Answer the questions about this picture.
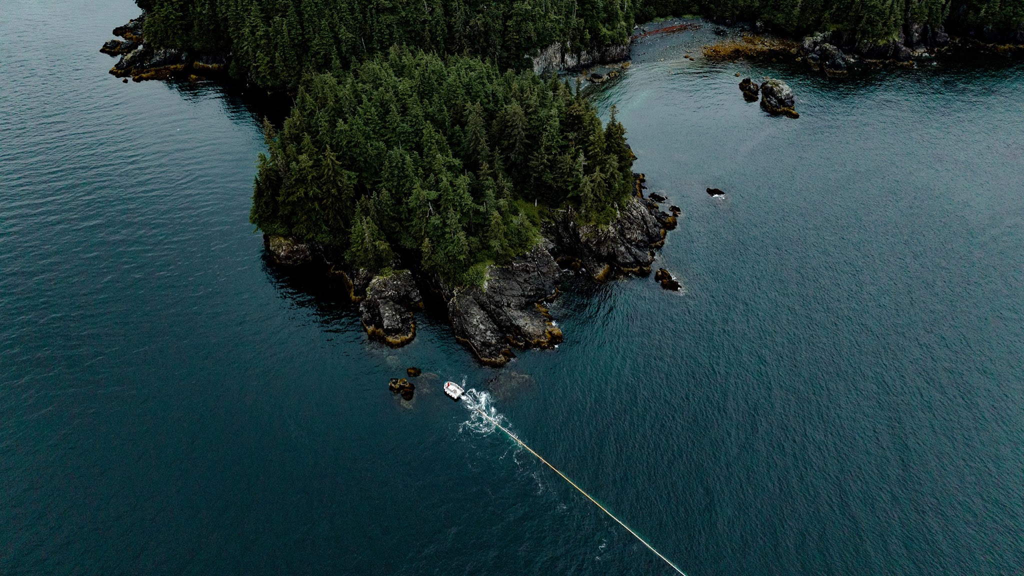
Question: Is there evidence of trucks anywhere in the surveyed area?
No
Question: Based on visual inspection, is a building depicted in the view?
No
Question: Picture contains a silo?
No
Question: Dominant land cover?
water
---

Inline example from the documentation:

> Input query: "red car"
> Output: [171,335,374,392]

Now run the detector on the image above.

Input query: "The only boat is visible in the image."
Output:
[443,382,465,400]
